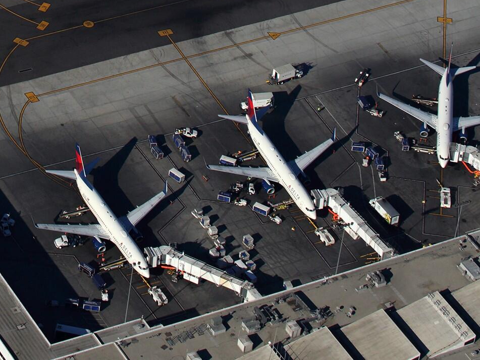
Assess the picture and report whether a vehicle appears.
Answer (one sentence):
Yes, there's a vehicle here.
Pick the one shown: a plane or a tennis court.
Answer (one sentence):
This aerial view contains a plane.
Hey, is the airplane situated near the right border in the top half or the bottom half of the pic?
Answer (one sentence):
You can find the airplane situated near the right border in the top half.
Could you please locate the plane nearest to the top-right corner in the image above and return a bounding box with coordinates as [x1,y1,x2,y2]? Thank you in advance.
[377,46,480,171]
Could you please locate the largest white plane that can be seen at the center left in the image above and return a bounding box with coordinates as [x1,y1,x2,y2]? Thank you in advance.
[36,147,170,281]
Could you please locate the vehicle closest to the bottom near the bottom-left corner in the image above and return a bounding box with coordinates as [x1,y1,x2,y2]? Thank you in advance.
[48,315,99,337]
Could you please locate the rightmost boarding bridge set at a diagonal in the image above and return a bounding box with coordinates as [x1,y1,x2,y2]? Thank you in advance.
[319,189,396,261]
